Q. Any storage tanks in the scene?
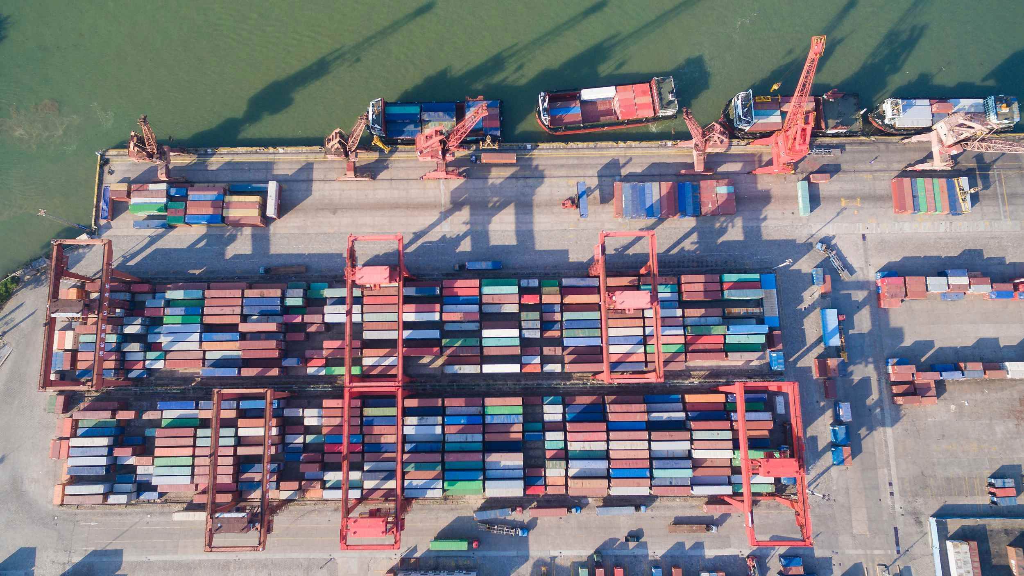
No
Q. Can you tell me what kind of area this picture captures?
port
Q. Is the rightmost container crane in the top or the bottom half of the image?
top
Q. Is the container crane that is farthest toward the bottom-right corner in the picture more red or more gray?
red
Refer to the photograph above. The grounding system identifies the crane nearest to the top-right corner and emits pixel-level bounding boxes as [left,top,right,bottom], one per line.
[899,108,1024,212]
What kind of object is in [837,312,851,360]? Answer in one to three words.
vehicle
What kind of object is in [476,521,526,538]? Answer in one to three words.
vehicle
